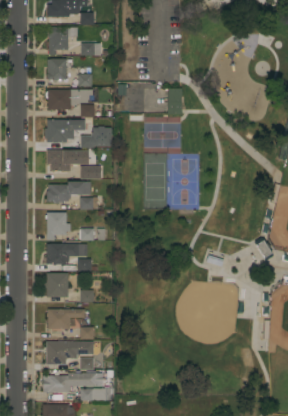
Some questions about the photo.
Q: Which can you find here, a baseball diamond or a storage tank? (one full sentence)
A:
Looking from above, you can make out a baseball diamond.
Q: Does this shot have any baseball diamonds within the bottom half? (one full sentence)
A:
Yes, within the bottom half there is a baseball diamond.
